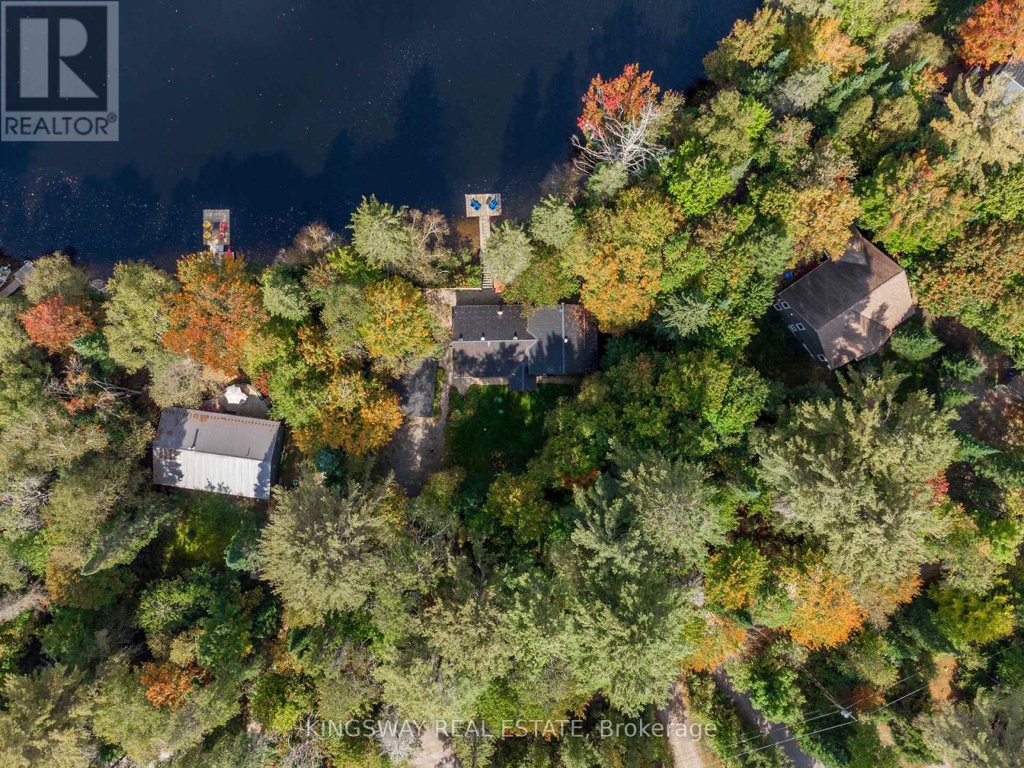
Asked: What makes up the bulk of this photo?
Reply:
trees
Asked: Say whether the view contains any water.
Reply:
Yes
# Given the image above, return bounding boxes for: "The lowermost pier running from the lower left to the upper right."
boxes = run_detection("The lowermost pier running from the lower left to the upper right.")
[2,256,45,290]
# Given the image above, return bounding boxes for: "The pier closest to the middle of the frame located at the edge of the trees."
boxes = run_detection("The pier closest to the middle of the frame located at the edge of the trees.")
[466,194,501,269]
